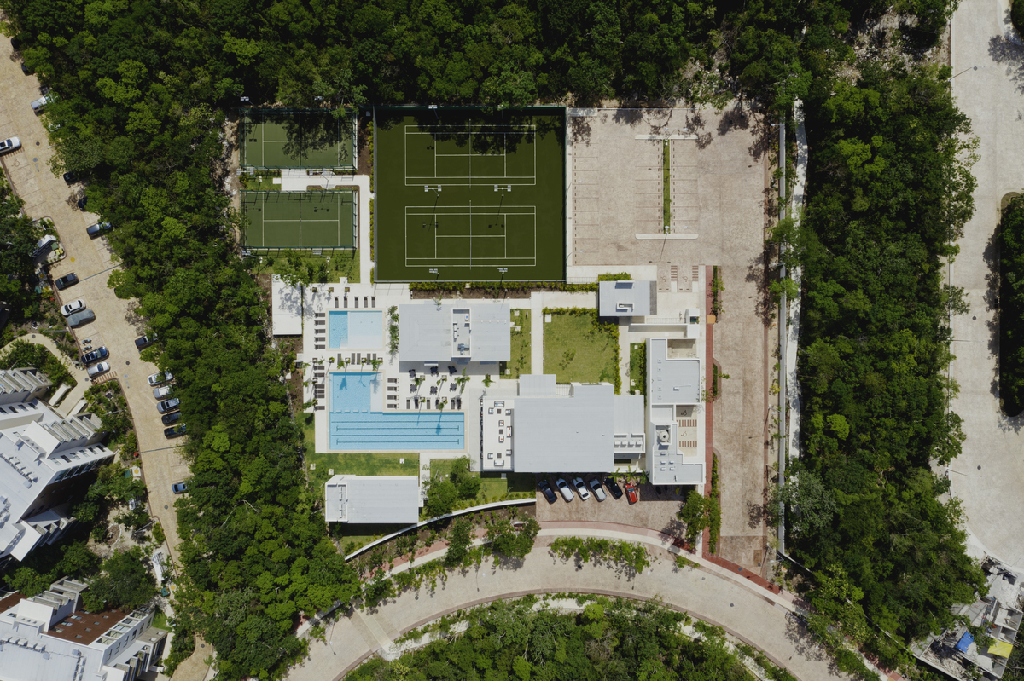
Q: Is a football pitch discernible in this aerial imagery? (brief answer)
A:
No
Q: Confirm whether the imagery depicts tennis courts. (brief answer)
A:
Yes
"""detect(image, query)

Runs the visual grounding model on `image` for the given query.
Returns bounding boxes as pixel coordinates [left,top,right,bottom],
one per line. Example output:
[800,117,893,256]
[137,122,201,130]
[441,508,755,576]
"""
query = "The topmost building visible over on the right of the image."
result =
[599,281,657,316]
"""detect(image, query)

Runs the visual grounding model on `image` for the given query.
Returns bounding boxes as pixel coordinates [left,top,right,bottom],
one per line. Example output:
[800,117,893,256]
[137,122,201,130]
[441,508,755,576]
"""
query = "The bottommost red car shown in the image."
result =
[625,484,638,505]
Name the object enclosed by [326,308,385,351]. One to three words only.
swimming pool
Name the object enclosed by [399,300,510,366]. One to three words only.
building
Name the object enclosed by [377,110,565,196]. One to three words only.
tennis court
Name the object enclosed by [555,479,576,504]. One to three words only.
car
